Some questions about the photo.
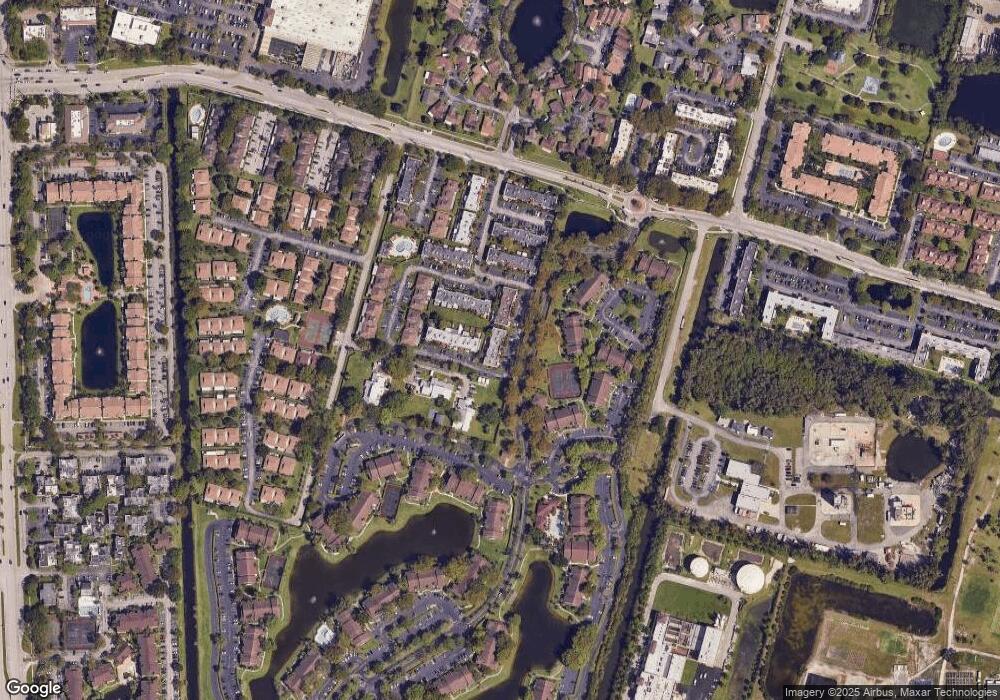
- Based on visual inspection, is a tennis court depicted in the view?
Yes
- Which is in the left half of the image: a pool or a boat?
pool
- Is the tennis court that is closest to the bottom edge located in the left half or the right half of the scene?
left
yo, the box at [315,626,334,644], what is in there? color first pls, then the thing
white swimming pool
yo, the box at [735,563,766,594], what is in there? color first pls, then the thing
white storage tank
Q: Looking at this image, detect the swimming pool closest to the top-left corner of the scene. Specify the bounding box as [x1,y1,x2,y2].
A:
[188,105,205,124]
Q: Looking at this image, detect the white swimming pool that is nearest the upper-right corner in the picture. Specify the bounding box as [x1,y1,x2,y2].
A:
[935,132,956,150]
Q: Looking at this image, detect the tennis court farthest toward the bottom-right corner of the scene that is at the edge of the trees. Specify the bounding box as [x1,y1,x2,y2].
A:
[550,362,581,398]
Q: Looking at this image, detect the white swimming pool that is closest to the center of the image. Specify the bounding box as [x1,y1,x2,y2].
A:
[390,235,416,257]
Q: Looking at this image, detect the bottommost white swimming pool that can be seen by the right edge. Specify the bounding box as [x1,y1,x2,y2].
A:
[939,357,963,376]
